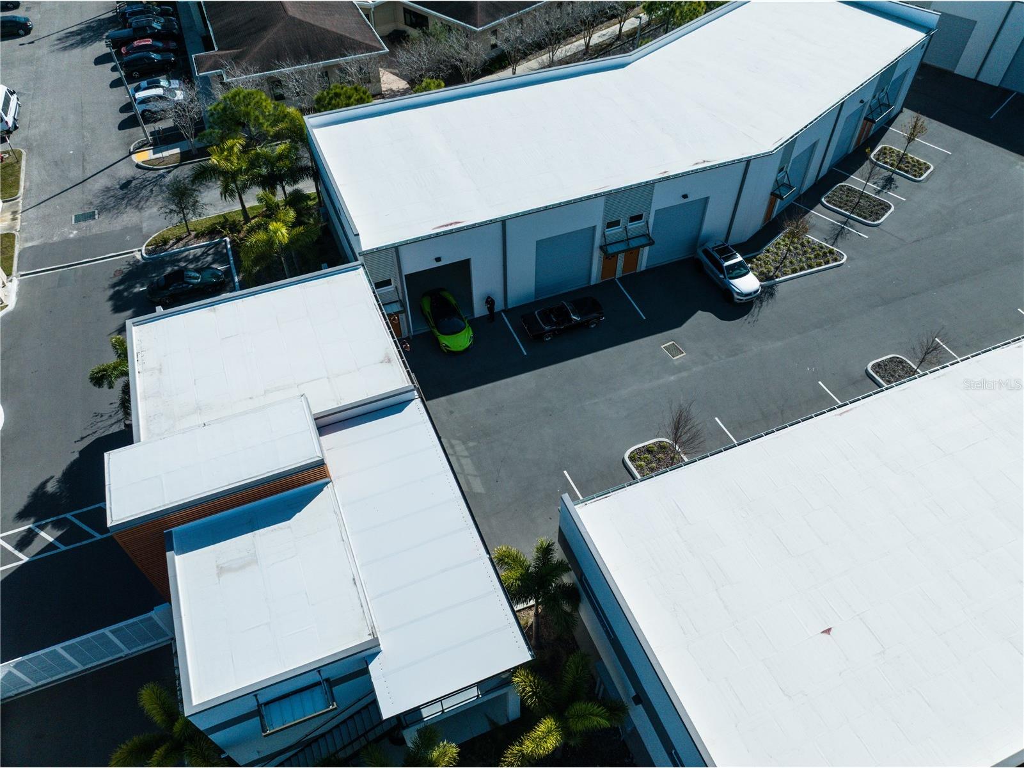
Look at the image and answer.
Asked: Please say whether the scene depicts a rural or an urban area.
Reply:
urban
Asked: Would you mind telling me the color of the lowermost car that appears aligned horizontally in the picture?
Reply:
black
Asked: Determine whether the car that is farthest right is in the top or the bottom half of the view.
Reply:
top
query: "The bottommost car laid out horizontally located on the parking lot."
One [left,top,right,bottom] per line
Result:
[521,291,611,336]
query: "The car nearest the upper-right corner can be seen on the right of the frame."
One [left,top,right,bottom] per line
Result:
[695,236,762,299]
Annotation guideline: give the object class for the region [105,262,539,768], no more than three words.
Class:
building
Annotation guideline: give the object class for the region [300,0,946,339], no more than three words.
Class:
building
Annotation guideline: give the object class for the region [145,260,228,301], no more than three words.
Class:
car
